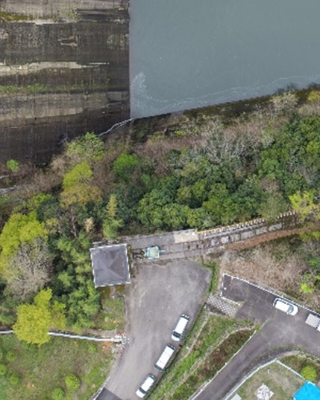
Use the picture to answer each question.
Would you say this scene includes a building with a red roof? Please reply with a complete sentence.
No, the frame has no building with a red roof in it.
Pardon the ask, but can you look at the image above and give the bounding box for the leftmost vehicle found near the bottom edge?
[135,375,157,400]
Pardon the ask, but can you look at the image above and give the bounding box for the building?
[86,250,126,291]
